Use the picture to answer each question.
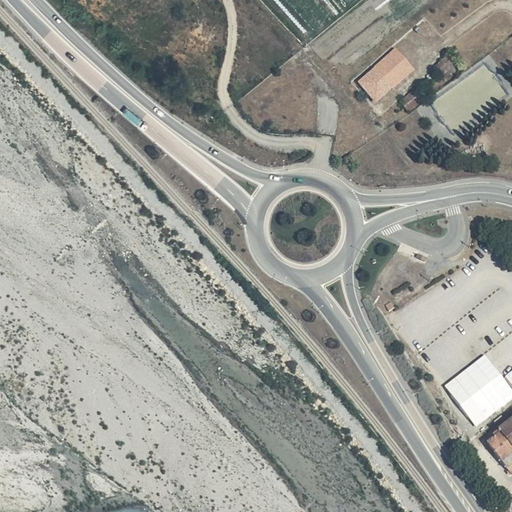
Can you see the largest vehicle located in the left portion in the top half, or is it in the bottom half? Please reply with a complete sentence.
The top half of the photo is where the largest vehicle located in the left portion is.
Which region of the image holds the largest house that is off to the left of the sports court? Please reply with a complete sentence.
You can find the largest house that is off to the left of the sports court in the top right area of the picture.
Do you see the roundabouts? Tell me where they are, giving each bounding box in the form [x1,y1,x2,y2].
[244,167,366,288]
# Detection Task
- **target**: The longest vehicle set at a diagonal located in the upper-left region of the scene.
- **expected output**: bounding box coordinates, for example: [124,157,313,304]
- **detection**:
[122,108,145,128]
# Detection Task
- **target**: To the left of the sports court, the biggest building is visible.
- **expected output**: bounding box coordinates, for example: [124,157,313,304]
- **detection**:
[358,48,416,102]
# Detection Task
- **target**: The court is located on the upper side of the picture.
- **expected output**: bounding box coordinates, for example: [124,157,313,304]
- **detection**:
[432,64,509,134]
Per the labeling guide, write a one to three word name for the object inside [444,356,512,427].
building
